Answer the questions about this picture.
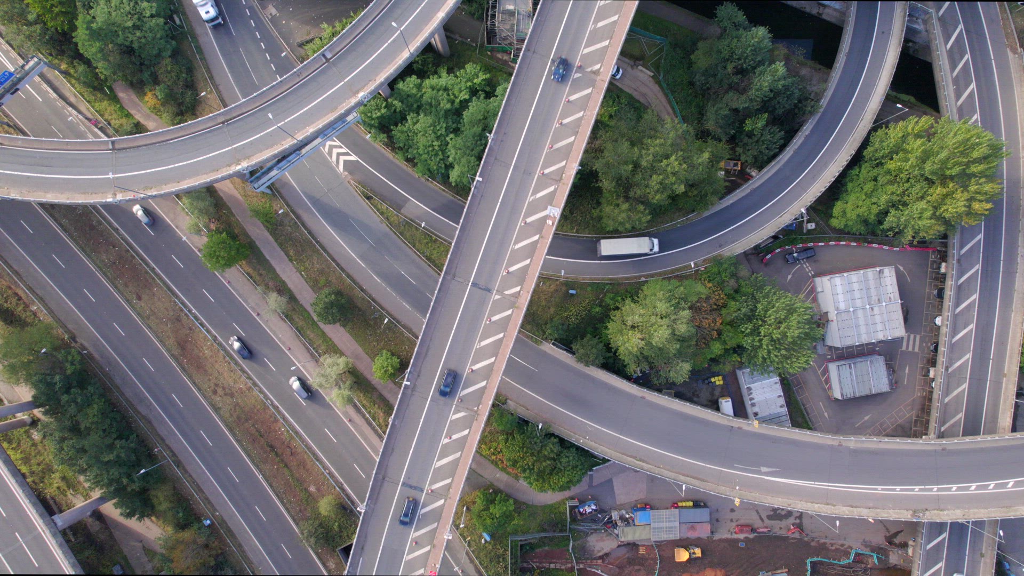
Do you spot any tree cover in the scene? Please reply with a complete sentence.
Yes, there is tree cover in the image.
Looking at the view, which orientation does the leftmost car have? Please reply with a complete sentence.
In this picture, the leftmost car lies on a diagonal.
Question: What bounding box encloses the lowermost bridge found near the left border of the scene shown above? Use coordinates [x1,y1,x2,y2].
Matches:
[0,433,93,576]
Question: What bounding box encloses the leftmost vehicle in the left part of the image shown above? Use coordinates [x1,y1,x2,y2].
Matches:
[131,202,155,227]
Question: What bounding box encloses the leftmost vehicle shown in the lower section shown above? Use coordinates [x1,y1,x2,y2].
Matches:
[229,334,253,359]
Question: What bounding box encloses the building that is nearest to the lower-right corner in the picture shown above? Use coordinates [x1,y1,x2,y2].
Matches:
[827,355,891,400]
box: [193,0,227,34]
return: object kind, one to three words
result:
truck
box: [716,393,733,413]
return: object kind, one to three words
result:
vehicle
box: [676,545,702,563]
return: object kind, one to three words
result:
vehicle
